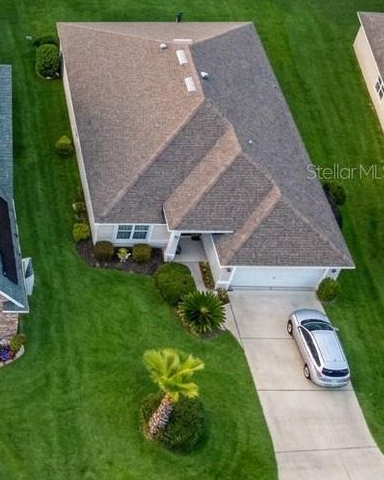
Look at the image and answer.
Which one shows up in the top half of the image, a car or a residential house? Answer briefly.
residential house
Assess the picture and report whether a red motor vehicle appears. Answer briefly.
No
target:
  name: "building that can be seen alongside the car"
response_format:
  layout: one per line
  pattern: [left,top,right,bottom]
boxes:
[56,21,356,289]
